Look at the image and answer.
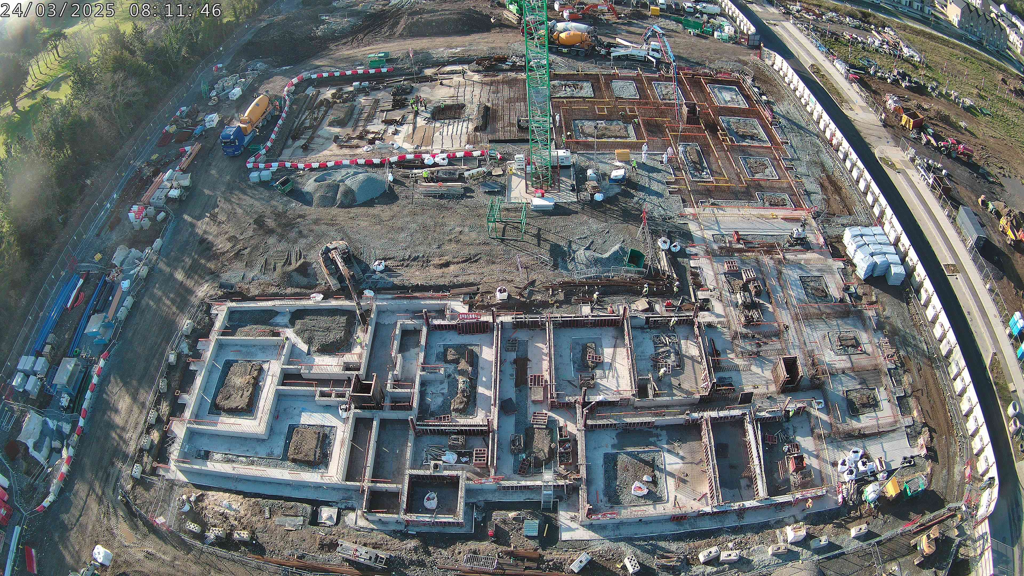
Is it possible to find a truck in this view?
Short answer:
Yes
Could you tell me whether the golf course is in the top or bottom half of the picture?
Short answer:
top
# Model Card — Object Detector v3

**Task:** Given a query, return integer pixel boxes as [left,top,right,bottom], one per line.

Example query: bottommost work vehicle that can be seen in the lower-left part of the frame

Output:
[66,542,127,576]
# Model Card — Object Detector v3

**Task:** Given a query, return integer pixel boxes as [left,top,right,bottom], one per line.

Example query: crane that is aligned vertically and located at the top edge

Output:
[525,0,554,188]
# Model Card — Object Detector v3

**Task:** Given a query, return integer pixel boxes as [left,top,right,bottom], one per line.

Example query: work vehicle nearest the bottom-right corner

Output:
[907,513,967,569]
